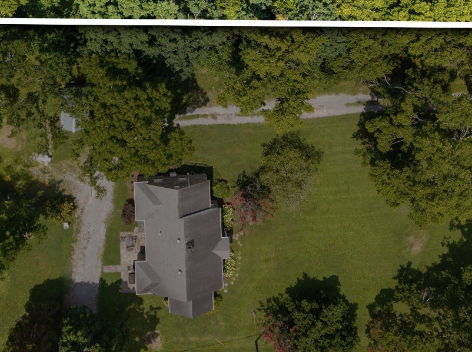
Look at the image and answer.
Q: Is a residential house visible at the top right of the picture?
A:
No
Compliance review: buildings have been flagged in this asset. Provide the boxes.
[134,171,231,318]
[60,95,84,131]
